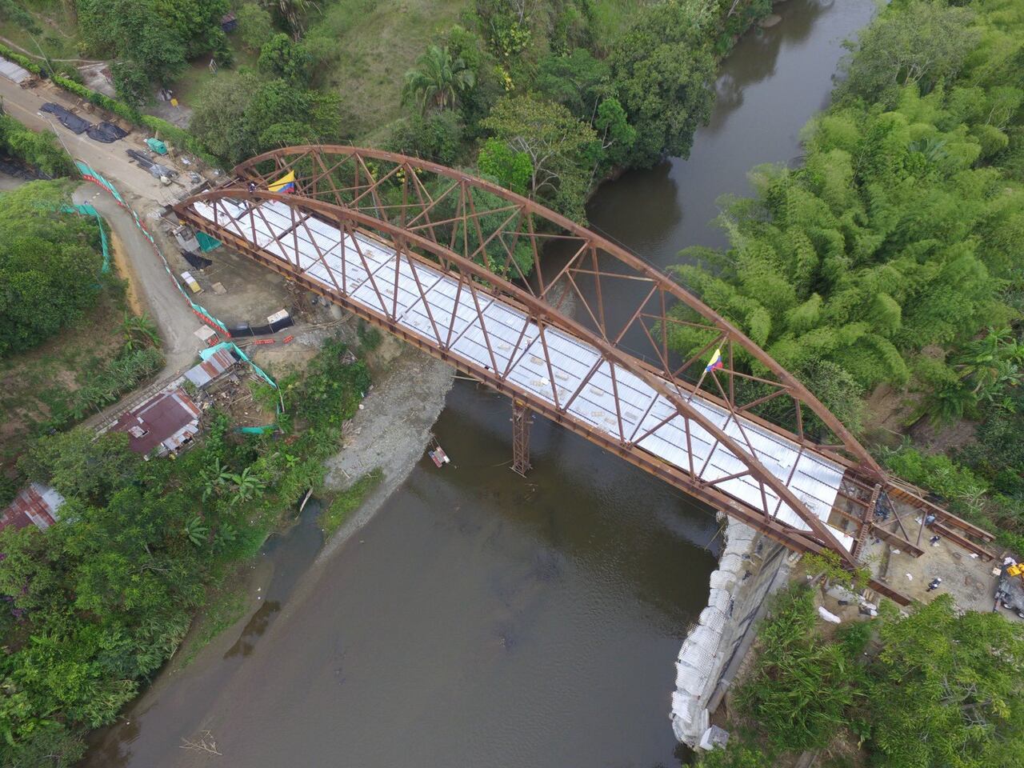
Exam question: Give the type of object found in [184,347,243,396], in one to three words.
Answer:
shed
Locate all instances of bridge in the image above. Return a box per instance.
[171,133,889,581]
